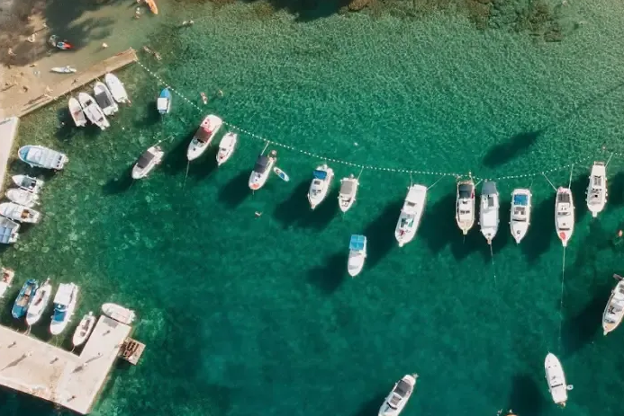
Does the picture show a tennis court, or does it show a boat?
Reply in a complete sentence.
The one in the frame is a boat.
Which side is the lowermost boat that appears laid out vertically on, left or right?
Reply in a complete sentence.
The lowermost boat that appears laid out vertically sits on the right side.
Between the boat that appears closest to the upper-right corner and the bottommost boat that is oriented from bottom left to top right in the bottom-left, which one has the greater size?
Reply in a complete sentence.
It is the boat that appears closest to the upper-right corner that is larger, not the bottommost boat that is oriented from bottom left to top right in the bottom-left.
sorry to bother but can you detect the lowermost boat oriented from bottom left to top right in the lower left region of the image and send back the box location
[72,312,97,352]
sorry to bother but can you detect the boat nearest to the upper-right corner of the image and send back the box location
[577,155,611,217]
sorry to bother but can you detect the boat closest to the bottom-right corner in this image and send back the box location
[544,351,569,408]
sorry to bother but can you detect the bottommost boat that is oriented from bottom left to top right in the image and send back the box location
[379,370,418,416]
